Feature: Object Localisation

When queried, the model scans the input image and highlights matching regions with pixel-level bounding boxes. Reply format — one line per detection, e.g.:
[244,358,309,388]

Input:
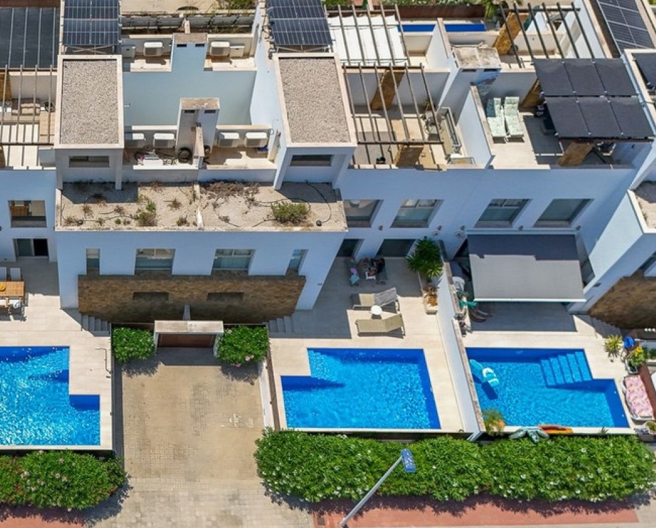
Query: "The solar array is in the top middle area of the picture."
[266,0,337,54]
